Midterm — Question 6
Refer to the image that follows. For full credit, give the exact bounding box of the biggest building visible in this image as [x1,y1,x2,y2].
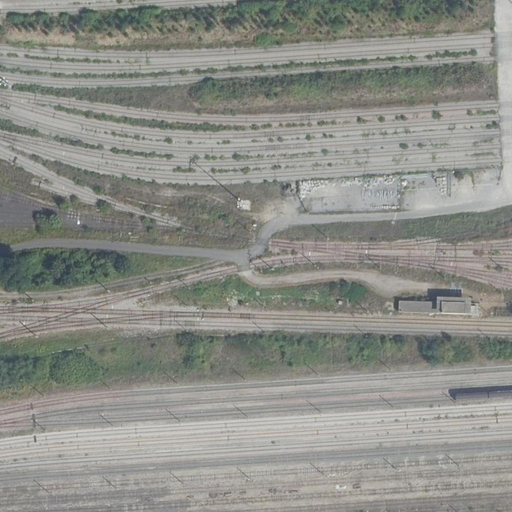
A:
[436,298,474,314]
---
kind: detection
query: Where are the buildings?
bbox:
[436,298,474,314]
[400,300,434,312]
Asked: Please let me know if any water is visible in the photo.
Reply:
No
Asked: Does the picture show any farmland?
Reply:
No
